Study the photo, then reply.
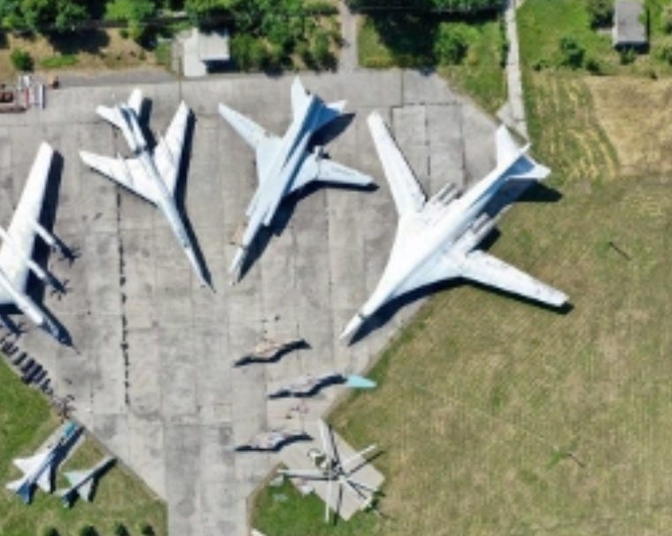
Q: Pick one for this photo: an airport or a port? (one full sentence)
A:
This image shows an airport.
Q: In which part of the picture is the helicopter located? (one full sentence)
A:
The helicopter appears toward the bottom of the photo.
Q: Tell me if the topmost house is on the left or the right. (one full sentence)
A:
The topmost house appears in the right half of the scene.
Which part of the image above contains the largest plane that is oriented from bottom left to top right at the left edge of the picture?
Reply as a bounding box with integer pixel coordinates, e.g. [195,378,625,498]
[4,421,80,504]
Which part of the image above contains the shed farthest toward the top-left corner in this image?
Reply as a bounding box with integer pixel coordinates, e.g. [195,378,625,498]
[200,33,229,60]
